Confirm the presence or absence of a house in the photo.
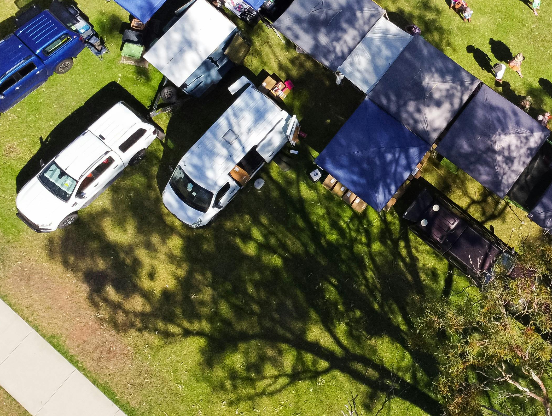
No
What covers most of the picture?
grass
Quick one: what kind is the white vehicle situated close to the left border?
truck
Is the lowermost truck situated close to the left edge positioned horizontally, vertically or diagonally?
diagonally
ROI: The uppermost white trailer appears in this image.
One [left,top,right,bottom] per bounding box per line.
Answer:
[145,0,251,118]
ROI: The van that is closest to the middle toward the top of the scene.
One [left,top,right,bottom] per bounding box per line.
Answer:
[162,76,298,218]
